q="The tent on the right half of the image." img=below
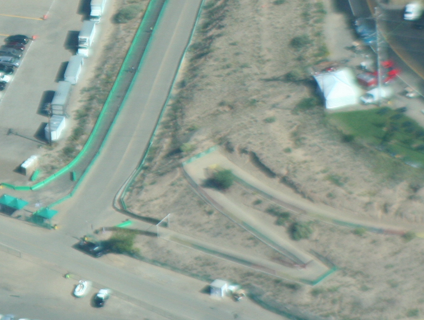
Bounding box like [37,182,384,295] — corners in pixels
[315,70,360,118]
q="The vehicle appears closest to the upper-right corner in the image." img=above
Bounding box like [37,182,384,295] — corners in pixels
[404,2,417,20]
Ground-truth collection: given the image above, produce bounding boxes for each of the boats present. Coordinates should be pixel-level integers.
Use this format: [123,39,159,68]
[74,277,89,300]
